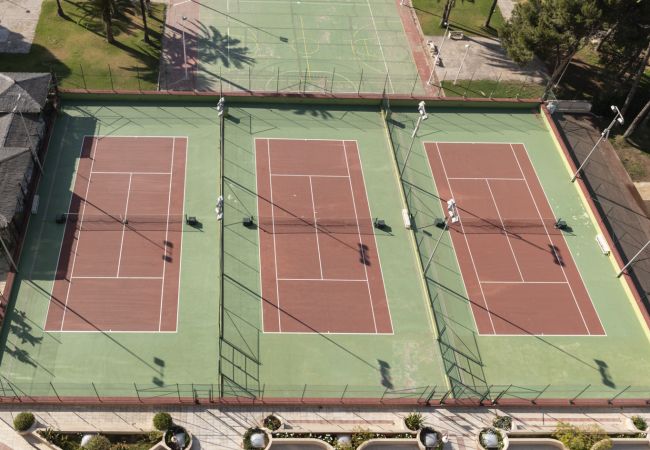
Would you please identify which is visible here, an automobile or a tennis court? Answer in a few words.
tennis court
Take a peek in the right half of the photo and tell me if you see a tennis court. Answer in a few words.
Yes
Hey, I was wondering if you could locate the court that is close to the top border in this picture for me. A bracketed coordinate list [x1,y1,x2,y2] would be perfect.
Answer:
[159,0,446,96]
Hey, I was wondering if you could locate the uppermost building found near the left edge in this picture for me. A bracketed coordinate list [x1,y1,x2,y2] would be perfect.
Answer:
[0,72,54,135]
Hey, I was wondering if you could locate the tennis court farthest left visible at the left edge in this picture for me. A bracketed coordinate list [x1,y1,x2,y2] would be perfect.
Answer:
[0,100,220,396]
